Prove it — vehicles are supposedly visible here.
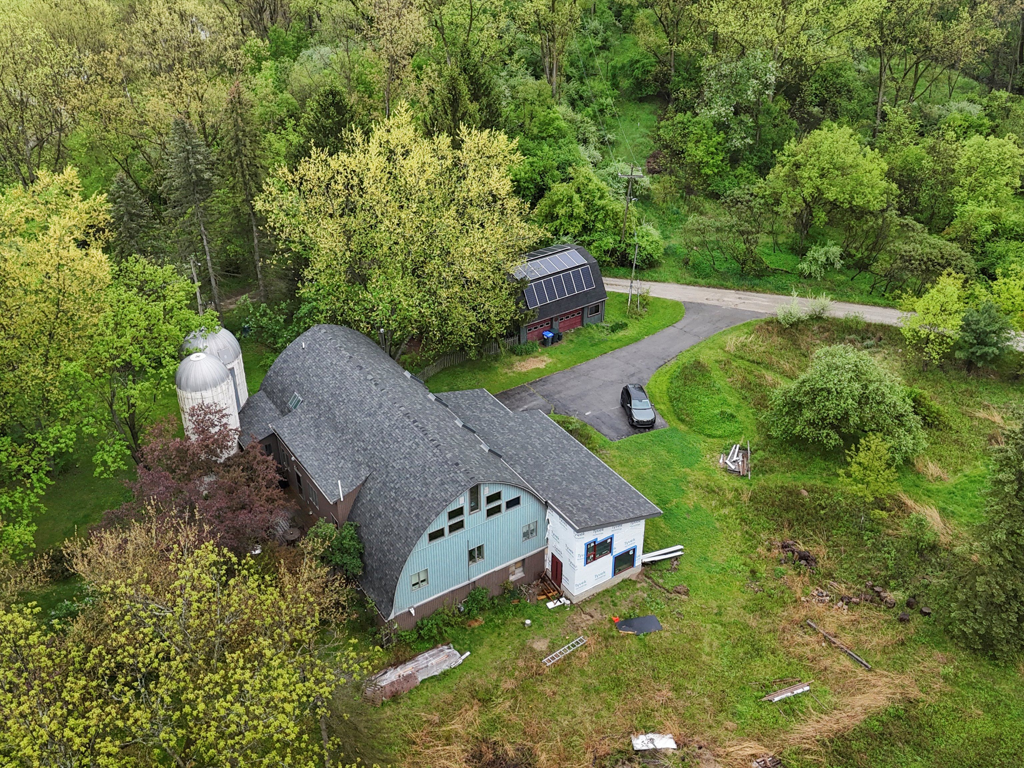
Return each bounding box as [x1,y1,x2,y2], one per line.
[620,383,657,430]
